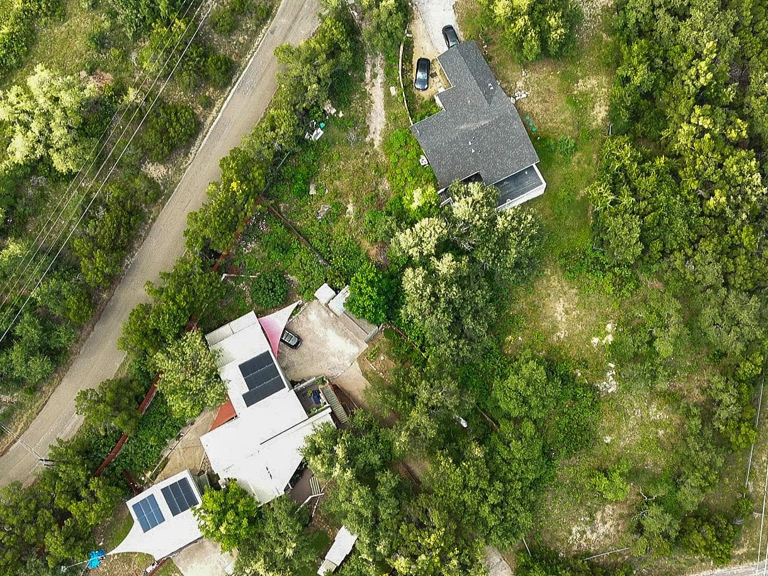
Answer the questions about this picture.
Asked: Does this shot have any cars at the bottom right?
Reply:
No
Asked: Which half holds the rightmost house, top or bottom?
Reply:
top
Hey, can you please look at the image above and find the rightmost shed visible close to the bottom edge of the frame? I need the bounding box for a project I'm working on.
[317,523,359,576]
